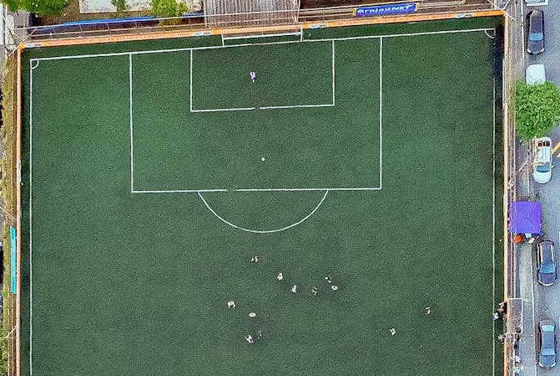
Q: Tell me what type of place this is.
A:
sports ground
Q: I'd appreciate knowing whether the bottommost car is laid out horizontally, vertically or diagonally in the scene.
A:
vertically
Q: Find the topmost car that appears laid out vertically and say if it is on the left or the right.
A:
right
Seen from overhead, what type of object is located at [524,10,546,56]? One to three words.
car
